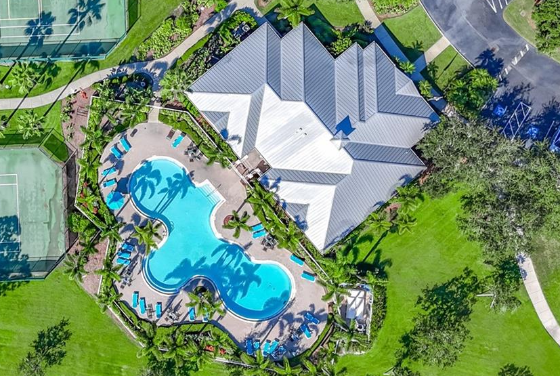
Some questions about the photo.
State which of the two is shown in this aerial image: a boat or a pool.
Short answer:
pool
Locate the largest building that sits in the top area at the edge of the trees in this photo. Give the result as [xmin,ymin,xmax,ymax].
[189,22,444,252]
